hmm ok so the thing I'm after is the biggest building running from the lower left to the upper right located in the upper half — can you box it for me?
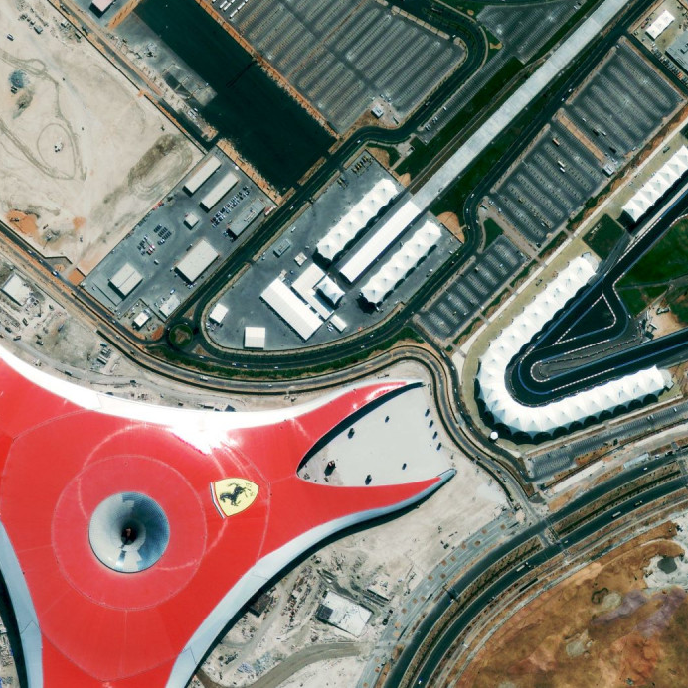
[338,199,421,283]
